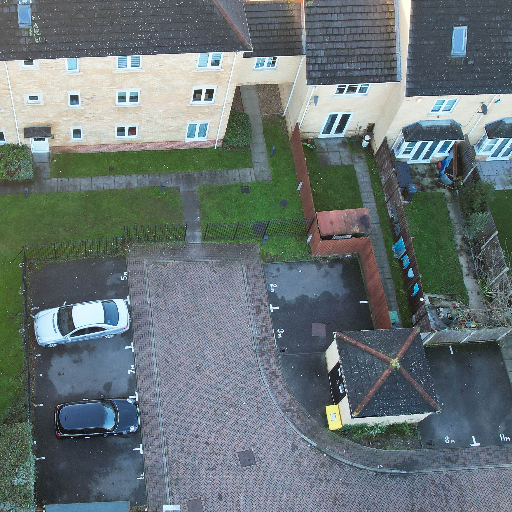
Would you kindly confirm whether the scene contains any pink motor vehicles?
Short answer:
No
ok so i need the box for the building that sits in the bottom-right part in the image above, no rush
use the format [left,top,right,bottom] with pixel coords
[331,325,442,424]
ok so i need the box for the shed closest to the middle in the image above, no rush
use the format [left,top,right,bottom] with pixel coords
[317,208,372,240]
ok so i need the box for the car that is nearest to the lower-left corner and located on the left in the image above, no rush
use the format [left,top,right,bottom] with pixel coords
[55,392,141,442]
